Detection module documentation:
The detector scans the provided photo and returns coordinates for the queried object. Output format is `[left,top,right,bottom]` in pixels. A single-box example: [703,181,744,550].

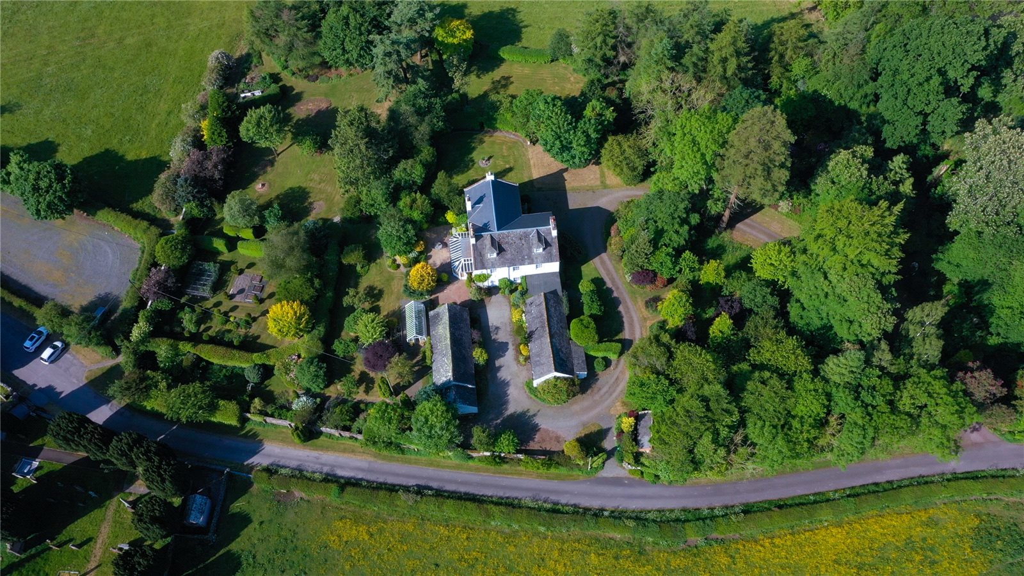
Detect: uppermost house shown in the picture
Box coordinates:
[449,173,565,303]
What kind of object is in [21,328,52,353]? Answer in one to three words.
car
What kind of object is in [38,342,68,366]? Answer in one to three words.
car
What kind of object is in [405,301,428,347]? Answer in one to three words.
greenhouse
